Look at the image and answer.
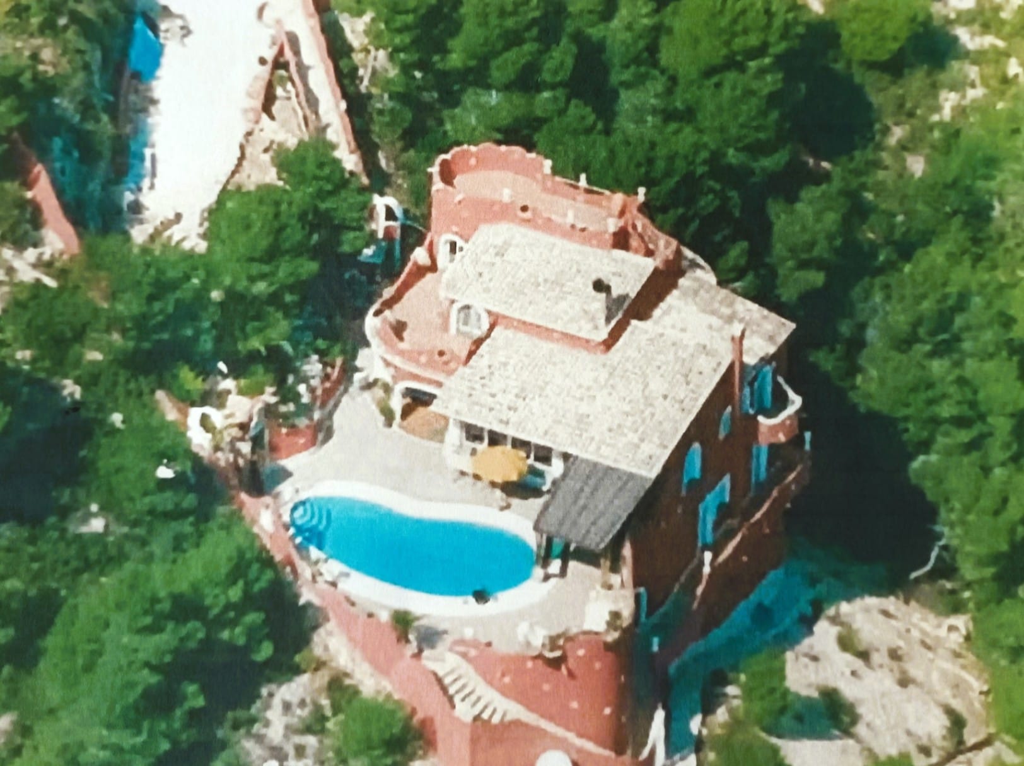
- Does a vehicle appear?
No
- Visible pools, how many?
one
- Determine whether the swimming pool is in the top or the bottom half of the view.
bottom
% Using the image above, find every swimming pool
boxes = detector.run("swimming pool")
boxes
[280,481,557,615]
